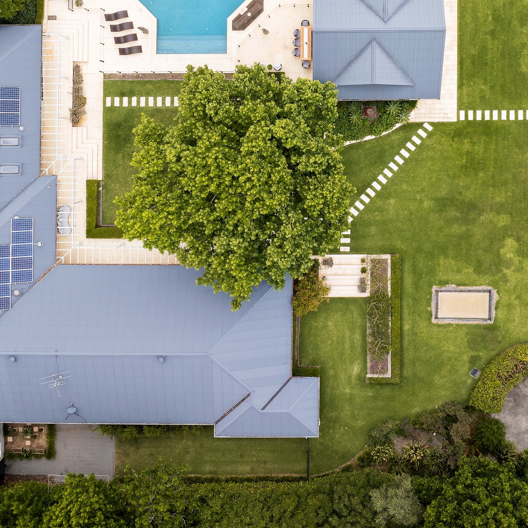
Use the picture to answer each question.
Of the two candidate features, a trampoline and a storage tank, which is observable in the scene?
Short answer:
trampoline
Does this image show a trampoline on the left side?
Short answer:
No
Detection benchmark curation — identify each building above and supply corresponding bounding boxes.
[312,0,448,101]
[0,23,322,480]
